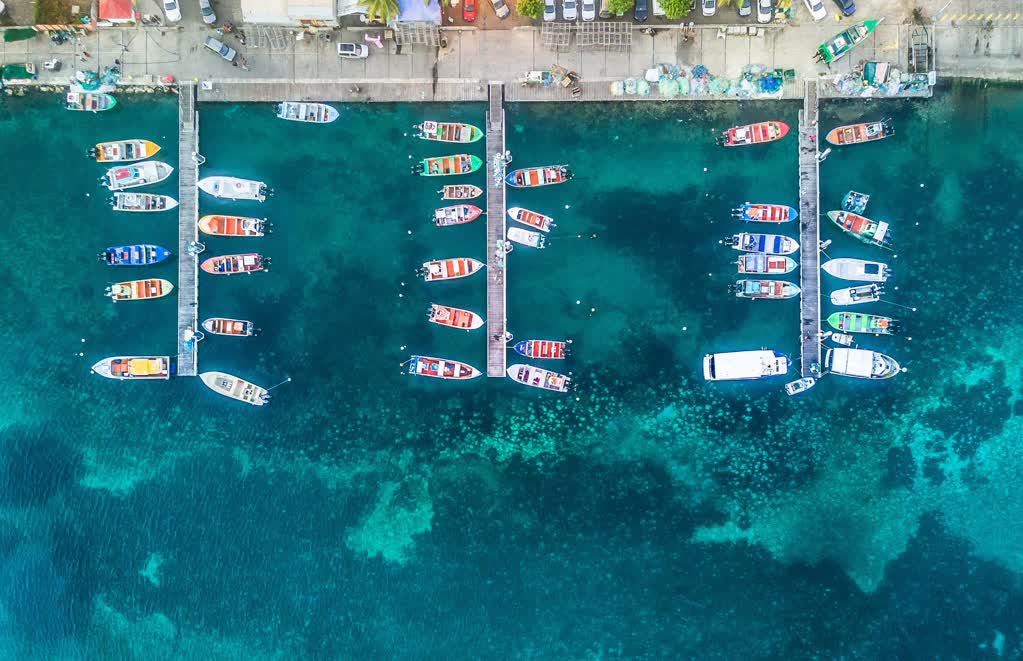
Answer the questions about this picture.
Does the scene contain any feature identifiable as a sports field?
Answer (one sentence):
No, there isn't any sports field down there.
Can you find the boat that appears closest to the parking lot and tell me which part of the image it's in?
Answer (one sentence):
Look in the top right portion of the view to spot the boat that appears closest to the parking lot.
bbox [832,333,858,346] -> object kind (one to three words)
boat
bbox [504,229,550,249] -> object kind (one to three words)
boat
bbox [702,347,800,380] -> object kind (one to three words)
vessel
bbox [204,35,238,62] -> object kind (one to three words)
car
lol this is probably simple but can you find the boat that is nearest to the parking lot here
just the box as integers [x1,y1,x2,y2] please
[816,17,888,62]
